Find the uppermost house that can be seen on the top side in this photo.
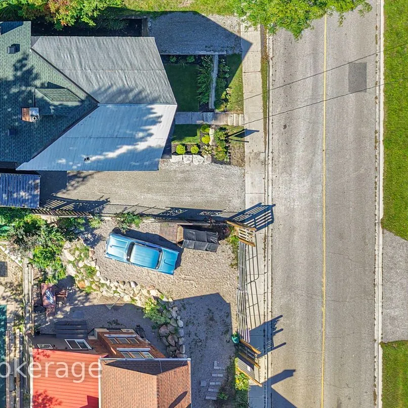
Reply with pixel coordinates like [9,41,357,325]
[0,20,180,172]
